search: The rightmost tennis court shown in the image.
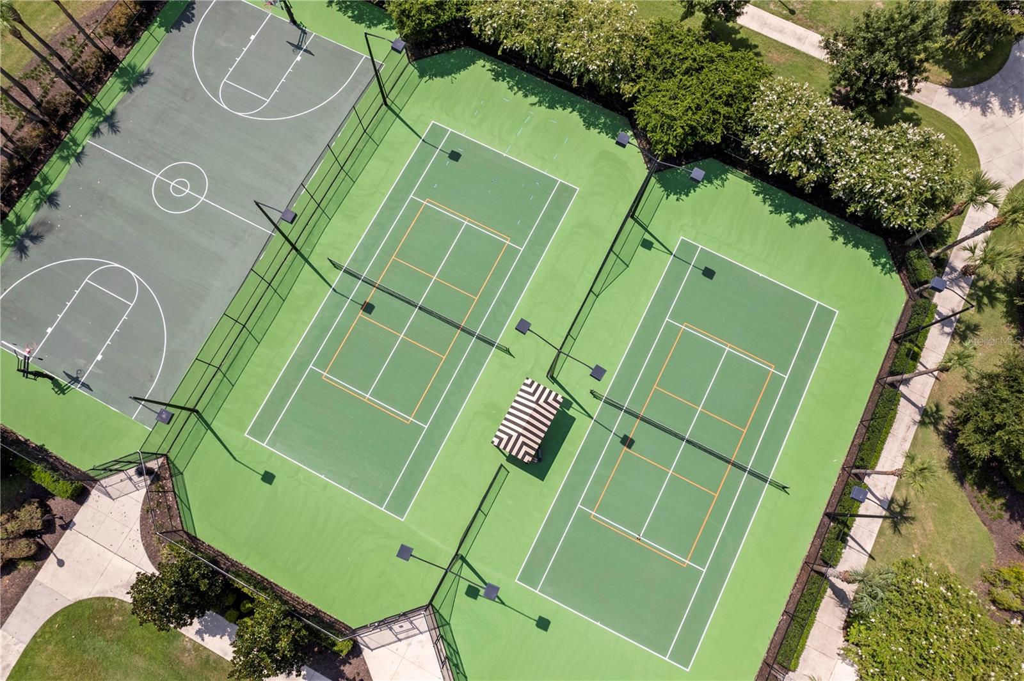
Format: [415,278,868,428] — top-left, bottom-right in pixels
[433,158,909,681]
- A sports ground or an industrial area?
sports ground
